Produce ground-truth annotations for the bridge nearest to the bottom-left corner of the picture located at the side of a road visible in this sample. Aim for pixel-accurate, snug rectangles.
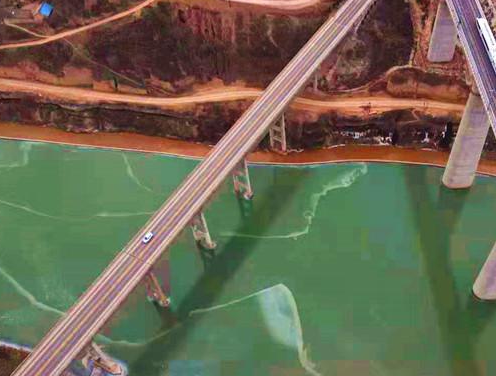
[11,0,375,376]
